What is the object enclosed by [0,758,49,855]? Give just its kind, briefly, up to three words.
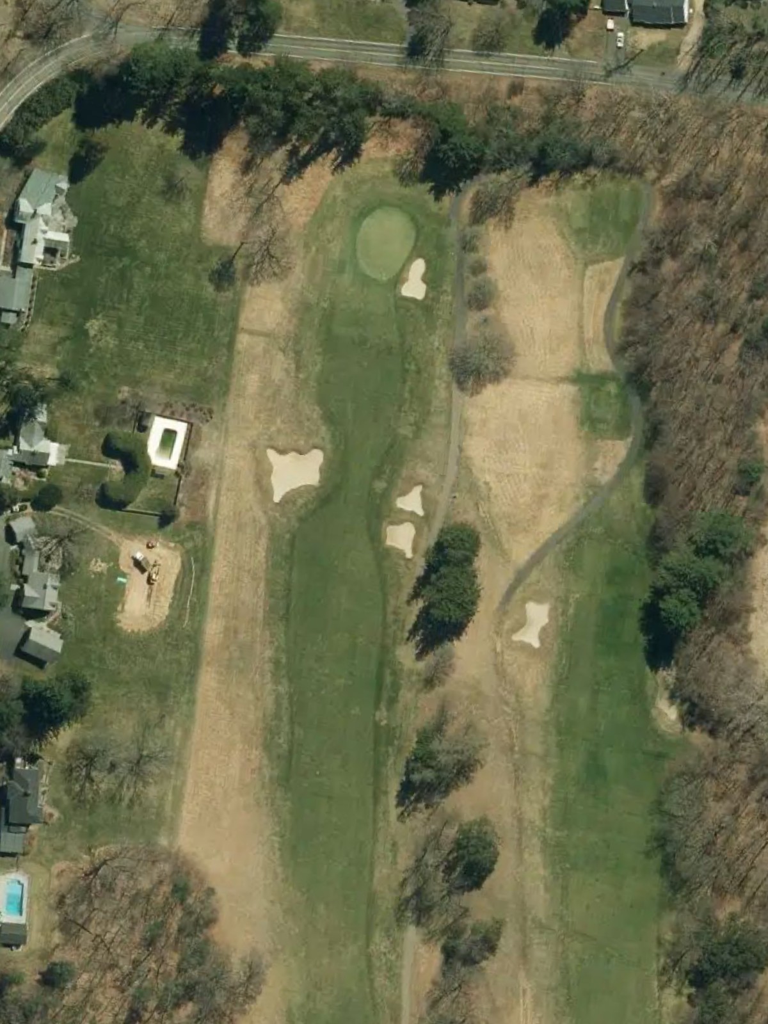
house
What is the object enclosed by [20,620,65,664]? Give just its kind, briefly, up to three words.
building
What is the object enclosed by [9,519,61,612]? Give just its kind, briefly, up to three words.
house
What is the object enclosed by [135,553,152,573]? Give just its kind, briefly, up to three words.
vehicle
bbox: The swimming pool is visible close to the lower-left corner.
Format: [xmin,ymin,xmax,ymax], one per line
[0,872,29,924]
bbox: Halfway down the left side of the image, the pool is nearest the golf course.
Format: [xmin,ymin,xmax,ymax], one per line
[148,416,187,470]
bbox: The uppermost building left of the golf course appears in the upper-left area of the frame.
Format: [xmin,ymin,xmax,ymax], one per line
[13,164,79,270]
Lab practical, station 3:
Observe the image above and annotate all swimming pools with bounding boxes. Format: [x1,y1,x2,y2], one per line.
[148,416,187,470]
[0,872,29,924]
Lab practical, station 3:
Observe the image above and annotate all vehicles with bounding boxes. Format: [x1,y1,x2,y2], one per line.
[148,541,158,547]
[618,32,624,47]
[135,553,152,573]
[607,17,614,31]
[150,562,159,582]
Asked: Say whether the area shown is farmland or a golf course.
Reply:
golf course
